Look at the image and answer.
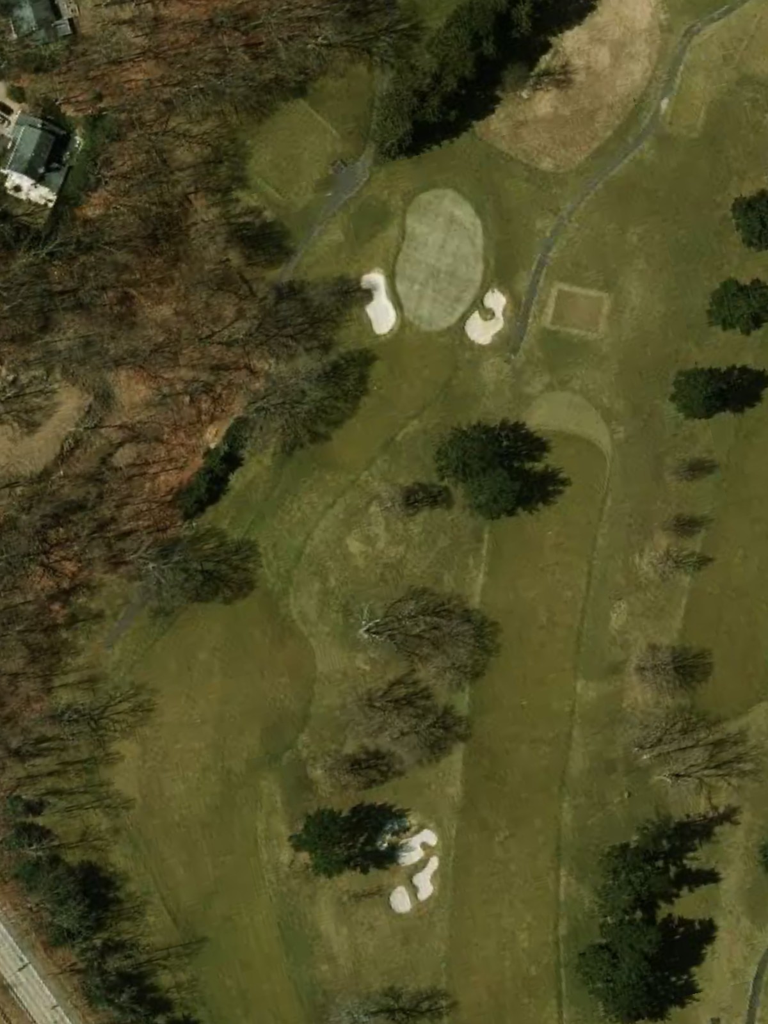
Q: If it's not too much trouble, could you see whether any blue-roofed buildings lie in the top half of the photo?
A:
No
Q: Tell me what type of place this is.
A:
golf course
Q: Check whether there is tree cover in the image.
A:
Yes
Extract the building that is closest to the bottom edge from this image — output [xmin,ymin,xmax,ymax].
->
[8,110,68,193]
